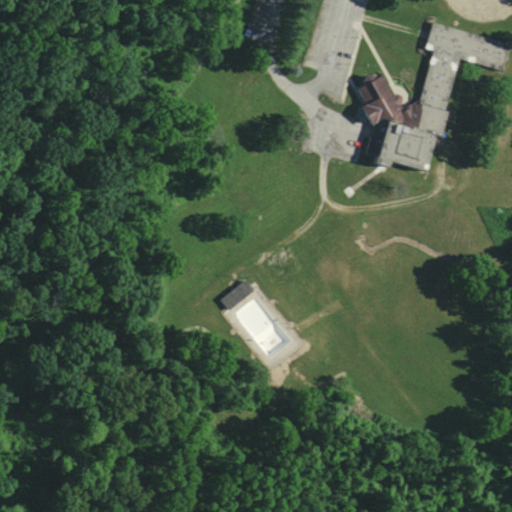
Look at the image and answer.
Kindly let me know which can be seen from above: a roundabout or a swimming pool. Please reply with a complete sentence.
It is a swimming pool that can be seen here.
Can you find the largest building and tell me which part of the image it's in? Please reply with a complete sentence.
Look in the top right portion of the view to spot the largest building.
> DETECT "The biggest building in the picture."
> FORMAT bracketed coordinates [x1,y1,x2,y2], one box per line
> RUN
[360,22,508,170]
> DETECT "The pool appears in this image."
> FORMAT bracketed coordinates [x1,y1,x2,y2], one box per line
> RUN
[222,284,307,370]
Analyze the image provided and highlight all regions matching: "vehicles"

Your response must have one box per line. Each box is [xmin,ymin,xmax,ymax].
[340,52,352,58]
[251,34,260,40]
[246,28,252,38]
[347,140,362,146]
